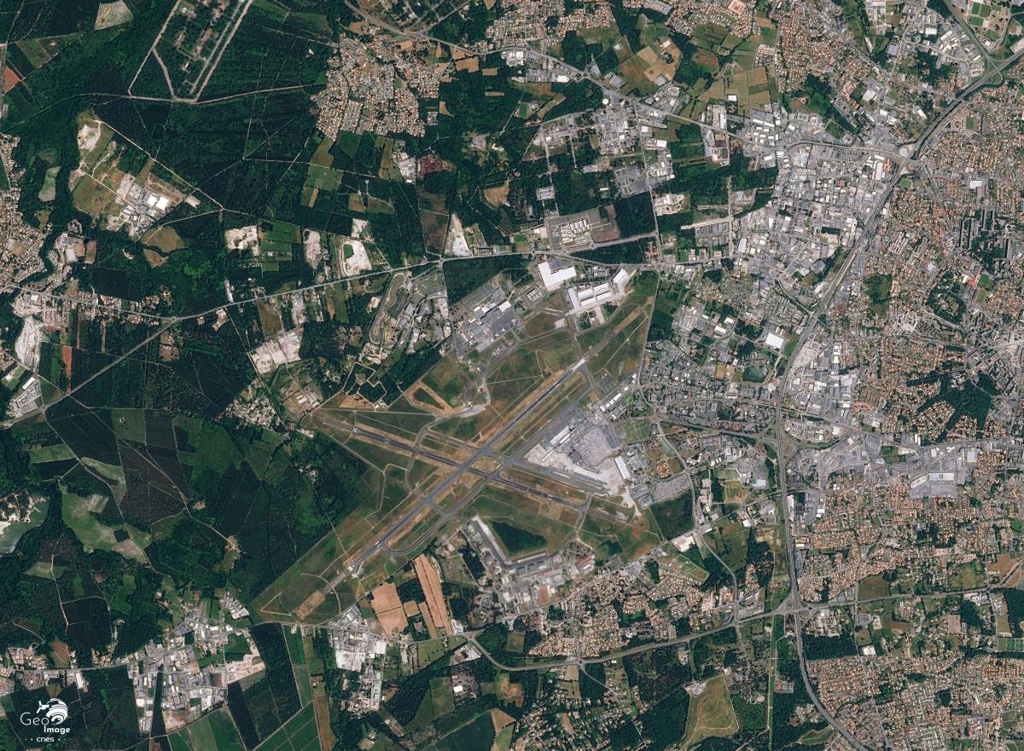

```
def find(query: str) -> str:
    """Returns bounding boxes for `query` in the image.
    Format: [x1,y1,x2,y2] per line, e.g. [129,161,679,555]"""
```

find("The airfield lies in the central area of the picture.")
[254,258,664,626]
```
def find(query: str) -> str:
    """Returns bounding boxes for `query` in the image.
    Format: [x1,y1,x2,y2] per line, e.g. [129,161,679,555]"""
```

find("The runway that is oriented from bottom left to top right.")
[355,360,587,567]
